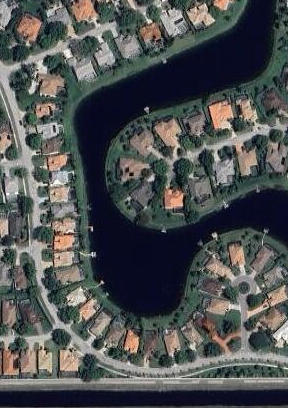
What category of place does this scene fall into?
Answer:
residential area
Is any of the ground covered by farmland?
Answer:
No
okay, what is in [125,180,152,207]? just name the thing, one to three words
house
